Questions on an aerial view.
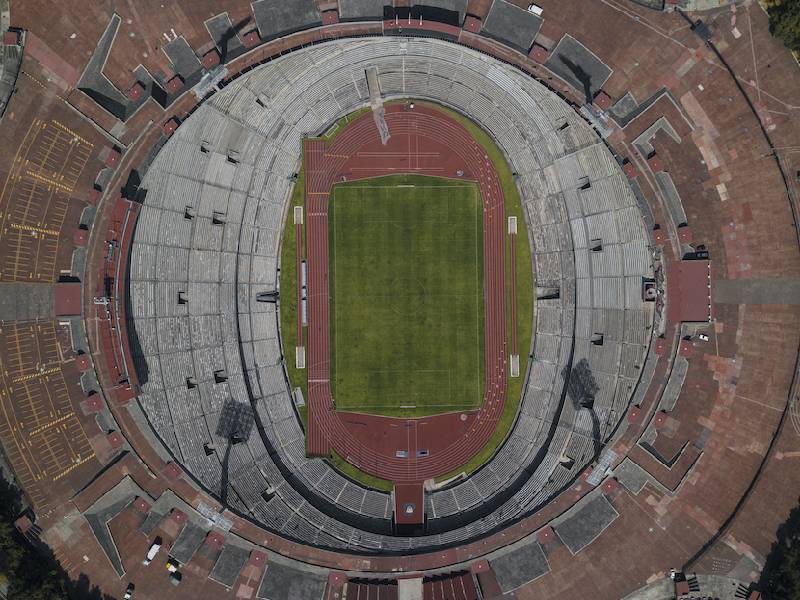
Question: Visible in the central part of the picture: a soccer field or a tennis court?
soccer field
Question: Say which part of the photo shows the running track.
center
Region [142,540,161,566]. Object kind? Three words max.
vehicle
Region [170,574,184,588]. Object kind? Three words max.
vehicle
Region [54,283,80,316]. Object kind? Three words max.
building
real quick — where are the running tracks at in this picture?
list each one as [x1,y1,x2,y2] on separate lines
[302,102,505,480]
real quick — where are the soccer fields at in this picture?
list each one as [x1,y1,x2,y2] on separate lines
[330,173,484,419]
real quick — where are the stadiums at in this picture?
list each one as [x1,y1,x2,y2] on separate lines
[70,12,696,580]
